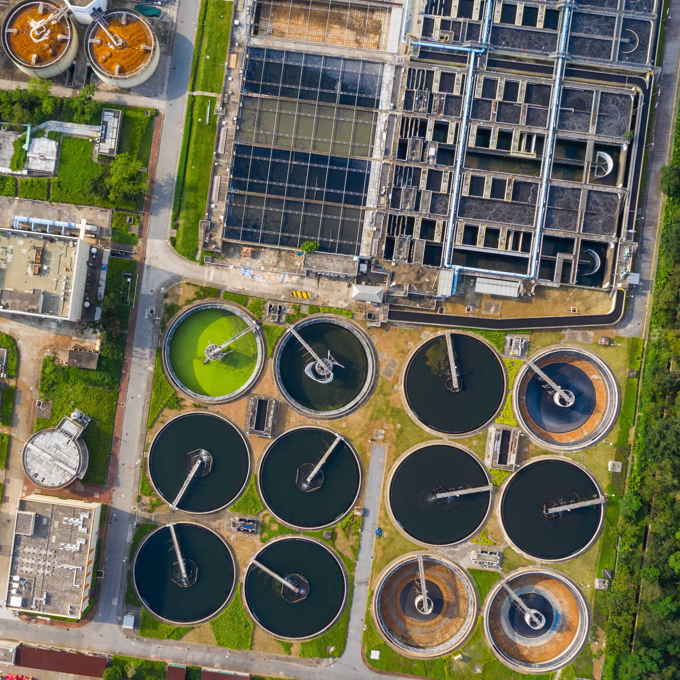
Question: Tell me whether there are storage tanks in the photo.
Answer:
Yes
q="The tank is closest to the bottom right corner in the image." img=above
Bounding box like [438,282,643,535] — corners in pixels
[481,562,593,675]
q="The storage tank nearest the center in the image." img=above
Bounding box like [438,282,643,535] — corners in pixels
[270,311,381,423]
